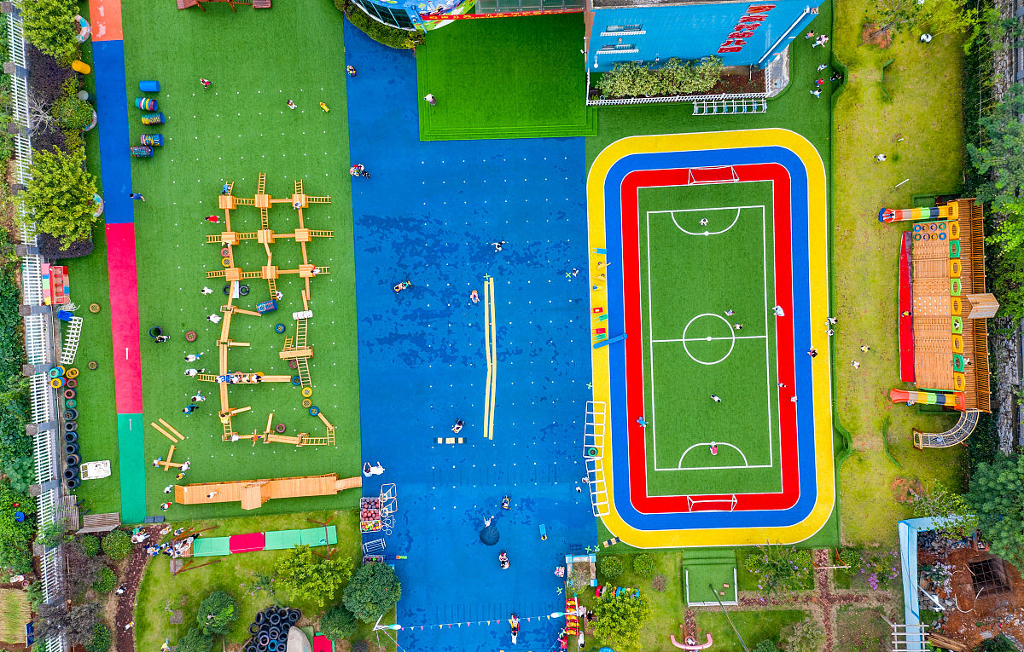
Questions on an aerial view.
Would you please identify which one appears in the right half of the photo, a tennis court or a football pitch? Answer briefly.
football pitch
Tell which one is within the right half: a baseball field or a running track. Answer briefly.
running track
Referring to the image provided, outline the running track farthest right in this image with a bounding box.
[586,127,835,550]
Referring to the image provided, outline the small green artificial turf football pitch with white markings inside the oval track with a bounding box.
[639,181,782,496]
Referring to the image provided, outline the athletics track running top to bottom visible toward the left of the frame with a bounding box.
[89,0,145,523]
